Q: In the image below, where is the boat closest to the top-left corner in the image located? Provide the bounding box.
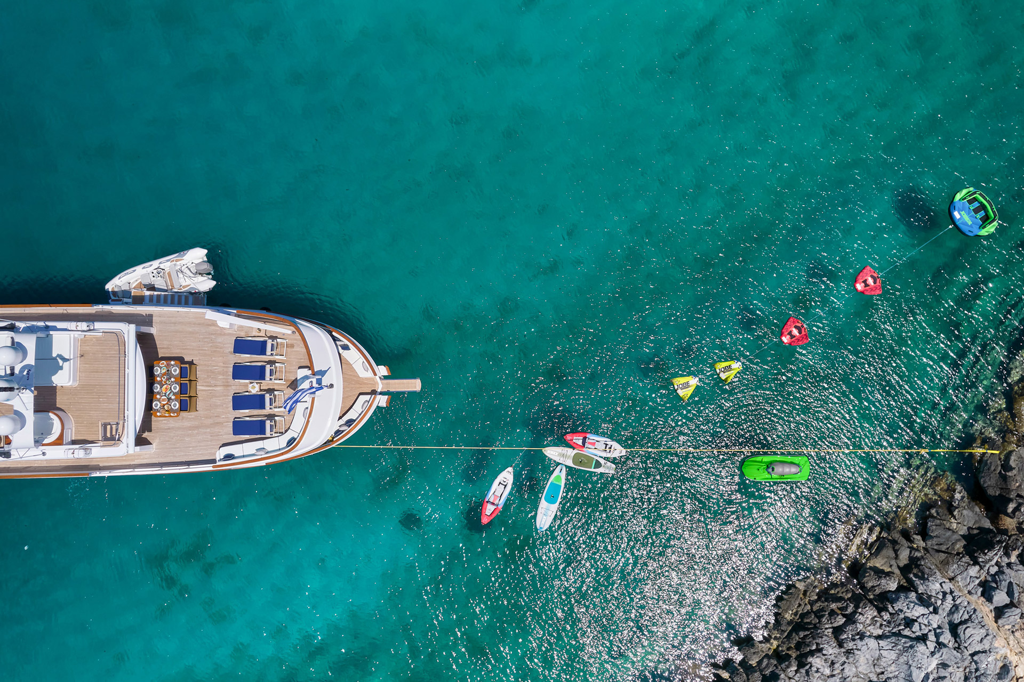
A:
[106,248,215,303]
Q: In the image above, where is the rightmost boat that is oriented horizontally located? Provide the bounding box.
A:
[741,456,811,481]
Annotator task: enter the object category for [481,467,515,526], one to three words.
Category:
boat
